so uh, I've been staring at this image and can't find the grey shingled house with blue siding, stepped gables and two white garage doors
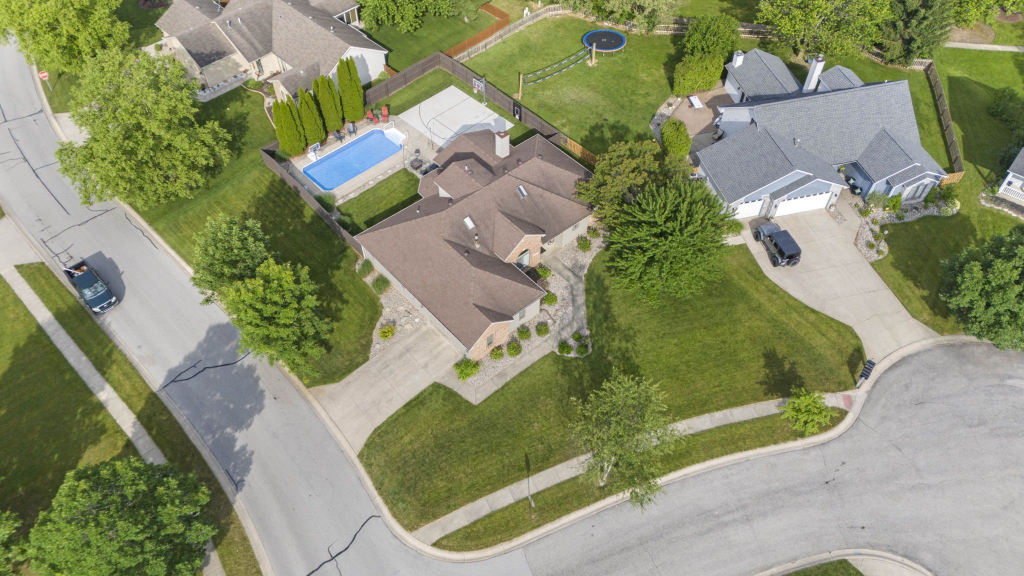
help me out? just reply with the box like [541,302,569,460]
[695,48,949,220]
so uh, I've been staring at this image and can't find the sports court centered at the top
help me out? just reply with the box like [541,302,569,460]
[396,85,514,149]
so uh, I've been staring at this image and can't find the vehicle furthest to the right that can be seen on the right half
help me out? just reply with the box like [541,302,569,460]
[753,224,802,267]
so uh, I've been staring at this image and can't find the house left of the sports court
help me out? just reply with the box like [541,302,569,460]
[128,0,389,106]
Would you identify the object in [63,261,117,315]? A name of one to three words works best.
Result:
truck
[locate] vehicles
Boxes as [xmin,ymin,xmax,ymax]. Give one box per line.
[753,224,802,267]
[63,261,117,315]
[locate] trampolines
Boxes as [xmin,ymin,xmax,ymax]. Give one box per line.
[583,31,626,62]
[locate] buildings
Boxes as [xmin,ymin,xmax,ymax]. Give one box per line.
[128,0,389,106]
[695,48,949,220]
[998,151,1024,207]
[353,128,614,363]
